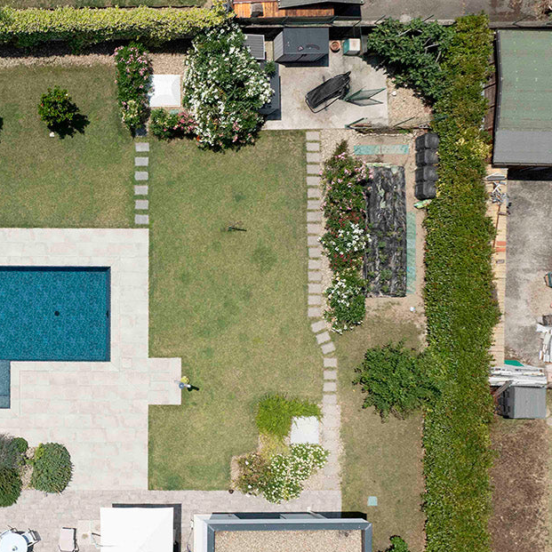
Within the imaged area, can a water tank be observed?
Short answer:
No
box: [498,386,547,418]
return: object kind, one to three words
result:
shed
